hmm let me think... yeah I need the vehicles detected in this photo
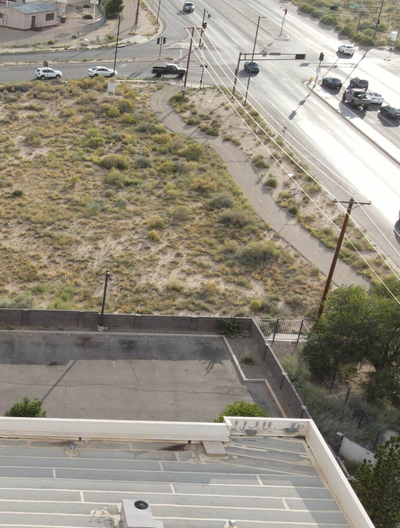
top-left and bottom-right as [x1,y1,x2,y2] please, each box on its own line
[338,46,357,54]
[35,68,62,78]
[88,67,116,77]
[344,91,367,108]
[151,62,187,76]
[382,107,400,119]
[365,92,386,105]
[324,76,341,88]
[184,2,194,11]
[350,76,368,89]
